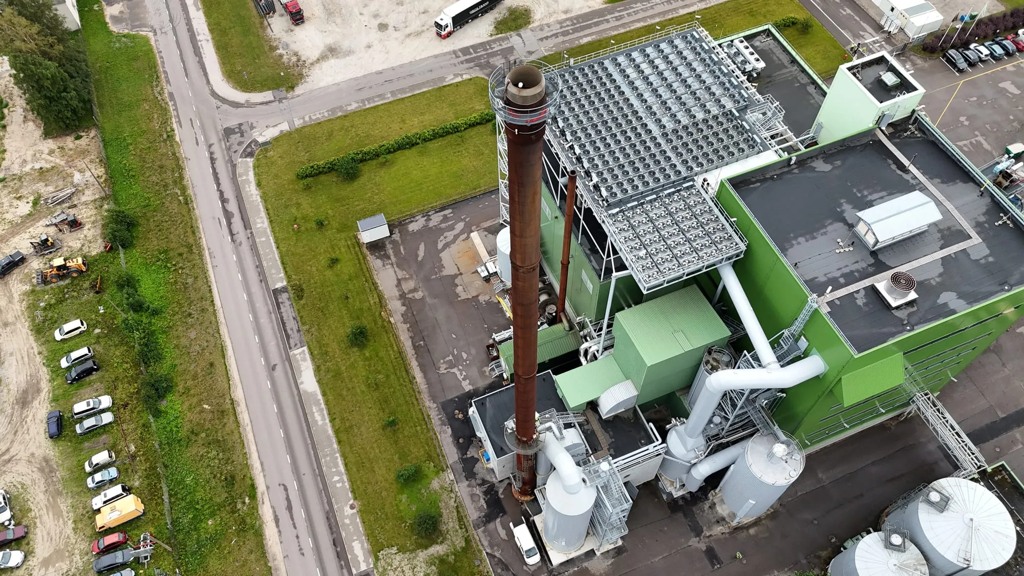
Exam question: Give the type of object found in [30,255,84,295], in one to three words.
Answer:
work vehicle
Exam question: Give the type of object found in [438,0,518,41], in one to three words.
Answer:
truck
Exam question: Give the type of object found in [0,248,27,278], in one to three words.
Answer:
truck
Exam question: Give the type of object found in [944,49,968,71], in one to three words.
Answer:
car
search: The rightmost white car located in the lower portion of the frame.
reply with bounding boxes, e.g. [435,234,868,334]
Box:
[508,519,540,565]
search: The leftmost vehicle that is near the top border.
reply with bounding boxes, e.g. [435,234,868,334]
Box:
[271,0,300,22]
